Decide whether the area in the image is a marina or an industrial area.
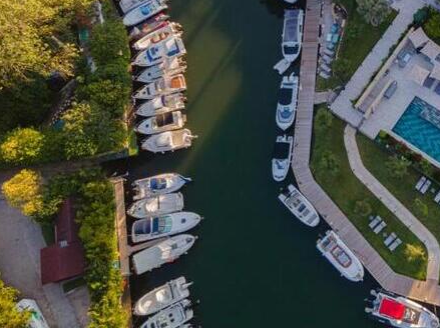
marina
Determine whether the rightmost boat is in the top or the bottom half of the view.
bottom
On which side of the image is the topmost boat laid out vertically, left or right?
right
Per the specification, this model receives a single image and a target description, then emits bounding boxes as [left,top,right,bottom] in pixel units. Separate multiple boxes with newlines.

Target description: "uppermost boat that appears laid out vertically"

[279,8,303,65]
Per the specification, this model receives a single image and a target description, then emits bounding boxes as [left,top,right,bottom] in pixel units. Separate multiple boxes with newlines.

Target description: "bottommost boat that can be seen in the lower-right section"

[364,288,440,328]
